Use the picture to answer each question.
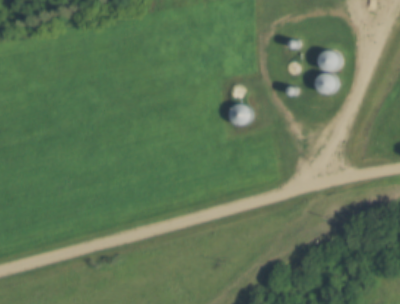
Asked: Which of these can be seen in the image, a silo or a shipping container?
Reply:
silo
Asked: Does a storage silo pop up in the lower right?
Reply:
No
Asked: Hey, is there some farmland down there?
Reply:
Yes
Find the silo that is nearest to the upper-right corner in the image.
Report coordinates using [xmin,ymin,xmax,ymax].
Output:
[318,49,344,72]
